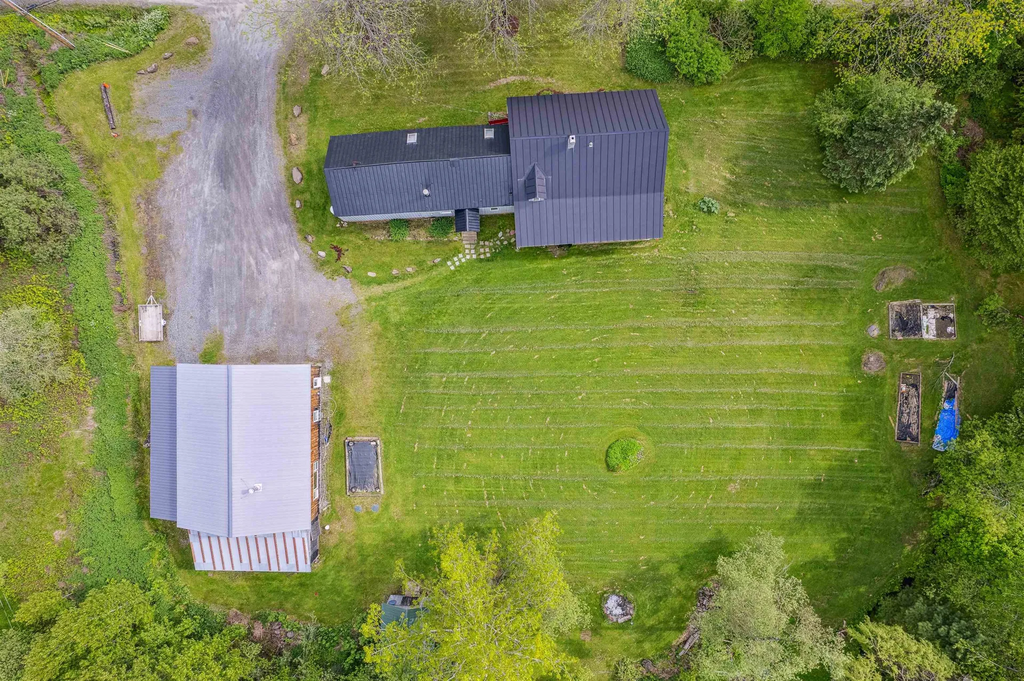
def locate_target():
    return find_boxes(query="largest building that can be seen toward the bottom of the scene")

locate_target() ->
[177,364,327,539]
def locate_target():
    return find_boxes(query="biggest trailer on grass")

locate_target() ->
[134,290,168,341]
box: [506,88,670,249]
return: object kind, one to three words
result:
house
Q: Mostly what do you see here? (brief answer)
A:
grass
